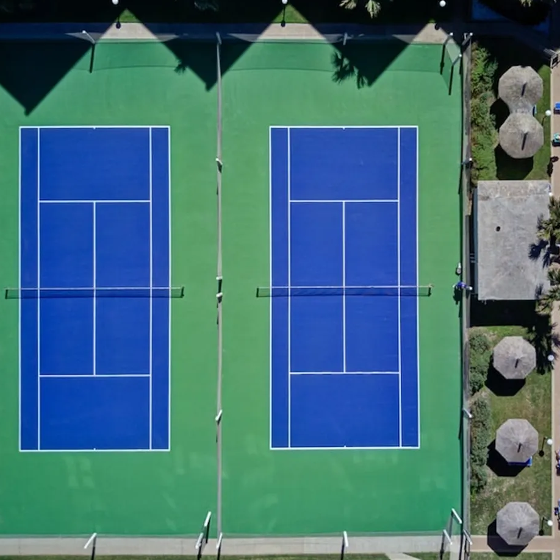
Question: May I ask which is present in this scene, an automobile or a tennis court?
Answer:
tennis court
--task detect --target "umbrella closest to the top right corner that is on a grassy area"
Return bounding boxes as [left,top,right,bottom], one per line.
[501,70,541,121]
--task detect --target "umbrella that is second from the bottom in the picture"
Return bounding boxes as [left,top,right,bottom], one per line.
[498,421,537,461]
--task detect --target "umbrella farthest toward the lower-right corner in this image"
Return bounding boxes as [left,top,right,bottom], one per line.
[498,504,537,545]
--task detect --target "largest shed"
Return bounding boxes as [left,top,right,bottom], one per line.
[472,181,550,300]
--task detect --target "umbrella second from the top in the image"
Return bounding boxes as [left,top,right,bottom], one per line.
[501,116,542,154]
